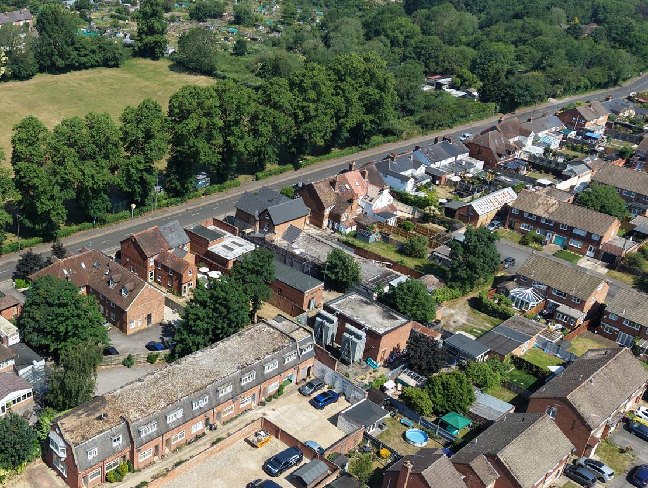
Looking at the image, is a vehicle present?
Yes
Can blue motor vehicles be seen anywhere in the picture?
Yes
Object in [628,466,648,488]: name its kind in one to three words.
car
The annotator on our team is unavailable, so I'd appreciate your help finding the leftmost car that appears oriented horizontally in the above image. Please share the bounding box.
[96,344,124,356]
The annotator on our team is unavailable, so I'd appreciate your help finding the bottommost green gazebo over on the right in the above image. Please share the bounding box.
[439,418,477,443]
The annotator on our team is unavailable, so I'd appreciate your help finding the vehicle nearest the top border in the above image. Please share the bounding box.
[459,128,473,140]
